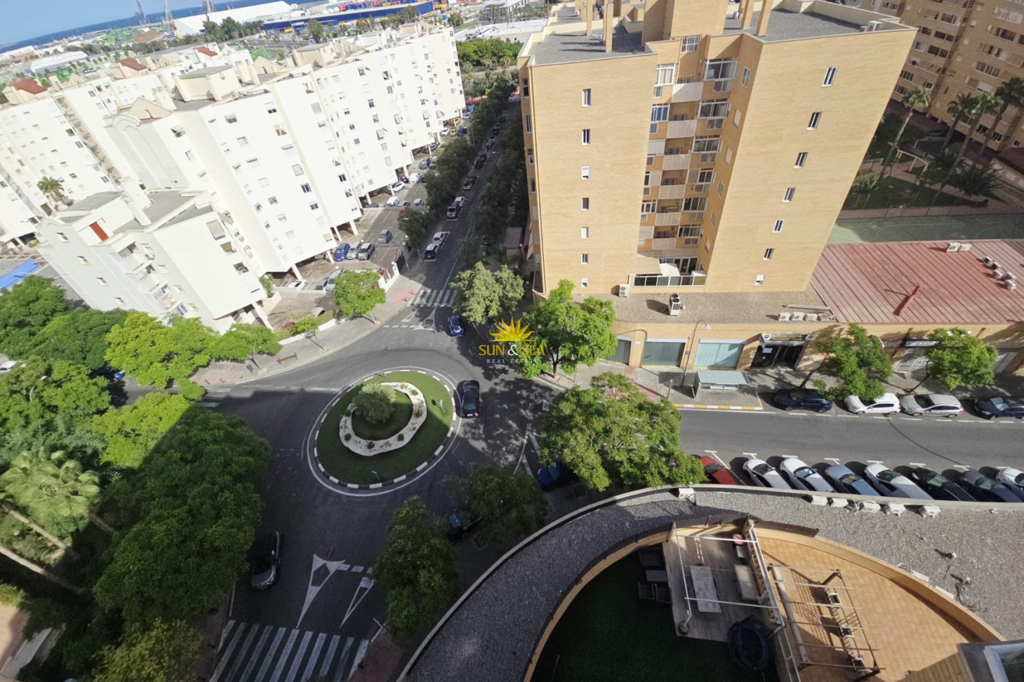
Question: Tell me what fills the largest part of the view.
buildings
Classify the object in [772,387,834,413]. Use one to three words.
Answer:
car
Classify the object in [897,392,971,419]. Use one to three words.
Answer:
car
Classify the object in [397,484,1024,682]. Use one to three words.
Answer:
building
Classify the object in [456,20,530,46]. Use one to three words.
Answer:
building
